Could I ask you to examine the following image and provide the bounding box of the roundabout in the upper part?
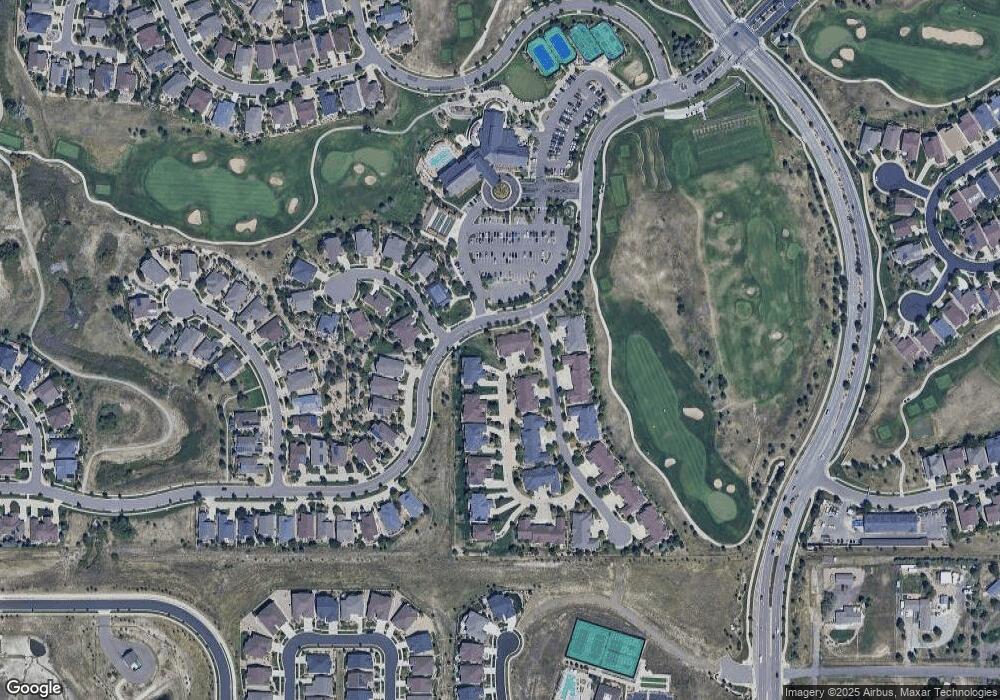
[481,171,521,212]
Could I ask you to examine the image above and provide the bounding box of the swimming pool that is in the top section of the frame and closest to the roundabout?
[423,144,458,172]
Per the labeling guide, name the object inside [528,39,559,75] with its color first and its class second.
blue tennis court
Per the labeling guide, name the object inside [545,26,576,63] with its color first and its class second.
blue tennis court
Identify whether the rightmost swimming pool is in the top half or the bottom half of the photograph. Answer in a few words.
bottom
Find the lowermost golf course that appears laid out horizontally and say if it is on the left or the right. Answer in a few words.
left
